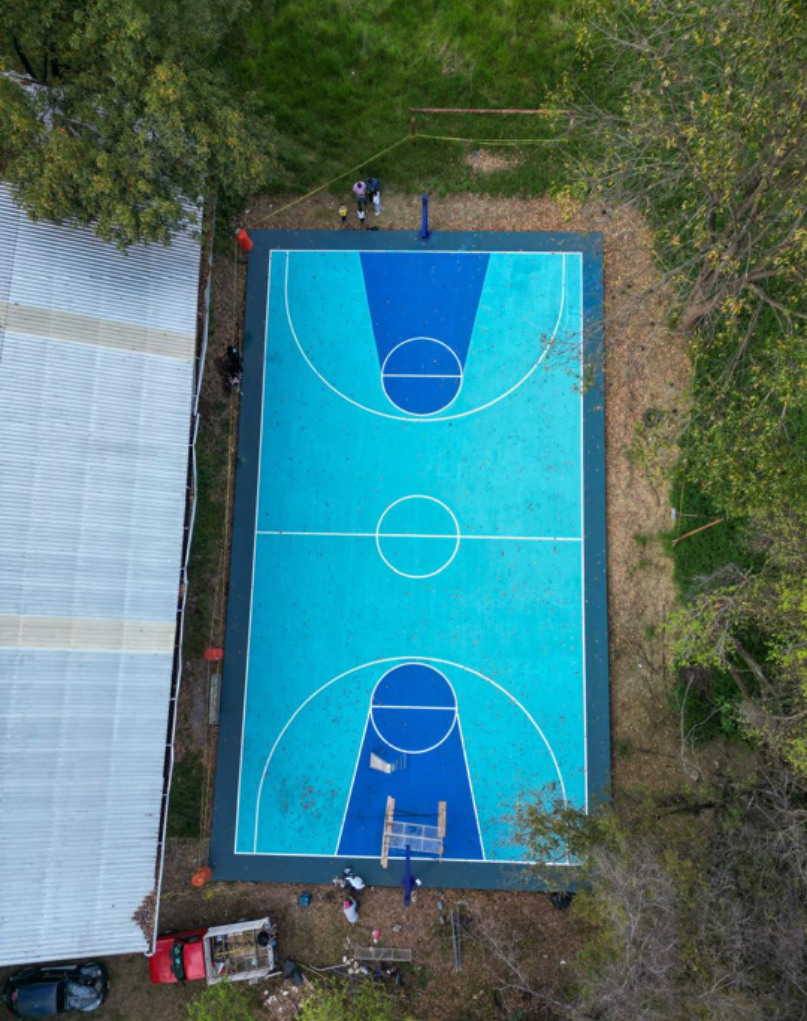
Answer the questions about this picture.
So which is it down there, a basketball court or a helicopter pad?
basketball court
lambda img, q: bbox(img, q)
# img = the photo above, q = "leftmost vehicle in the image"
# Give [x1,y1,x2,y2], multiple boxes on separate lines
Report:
[2,962,111,1021]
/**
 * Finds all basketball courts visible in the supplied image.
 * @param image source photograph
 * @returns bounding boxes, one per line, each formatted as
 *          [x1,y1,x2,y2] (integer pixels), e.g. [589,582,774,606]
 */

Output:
[210,229,613,892]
